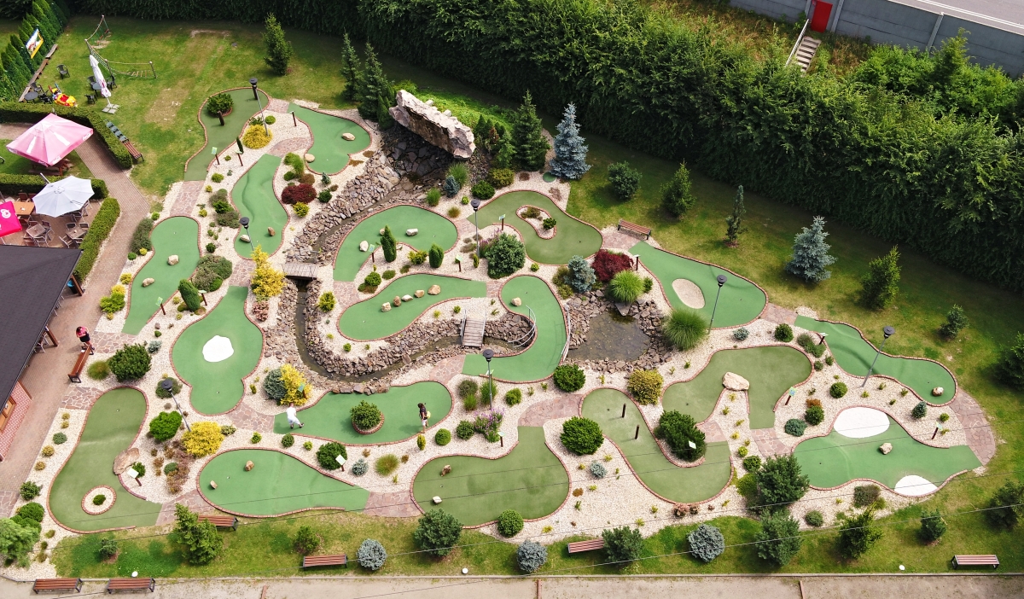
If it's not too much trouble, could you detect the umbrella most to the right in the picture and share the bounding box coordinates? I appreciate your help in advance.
[87,54,124,111]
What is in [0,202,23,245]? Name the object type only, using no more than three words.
umbrella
